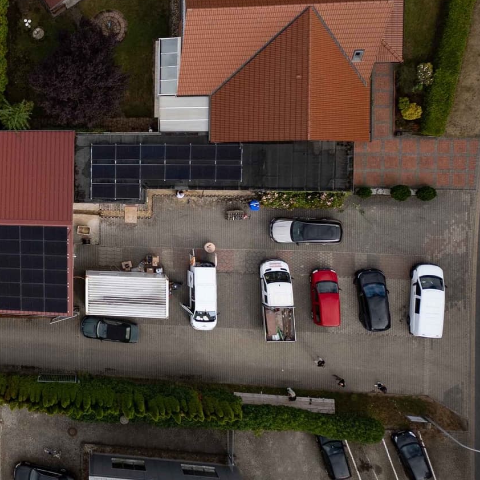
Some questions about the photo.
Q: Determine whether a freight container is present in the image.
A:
Yes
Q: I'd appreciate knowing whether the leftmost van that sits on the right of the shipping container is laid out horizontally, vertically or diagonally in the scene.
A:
vertically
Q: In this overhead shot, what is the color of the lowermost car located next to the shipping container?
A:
black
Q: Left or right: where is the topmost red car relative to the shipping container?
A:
to the right of it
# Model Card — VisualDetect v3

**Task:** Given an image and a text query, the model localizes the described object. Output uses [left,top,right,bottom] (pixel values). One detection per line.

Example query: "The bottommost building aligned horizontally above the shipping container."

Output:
[74,131,356,204]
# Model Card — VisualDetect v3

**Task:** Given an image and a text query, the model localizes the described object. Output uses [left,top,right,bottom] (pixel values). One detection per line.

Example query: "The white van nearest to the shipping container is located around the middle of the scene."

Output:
[180,249,219,328]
